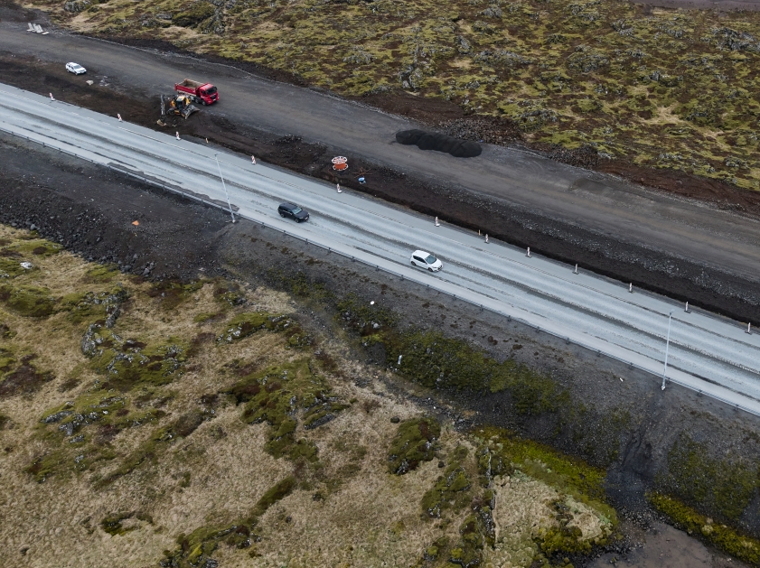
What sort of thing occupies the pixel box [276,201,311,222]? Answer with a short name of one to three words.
car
